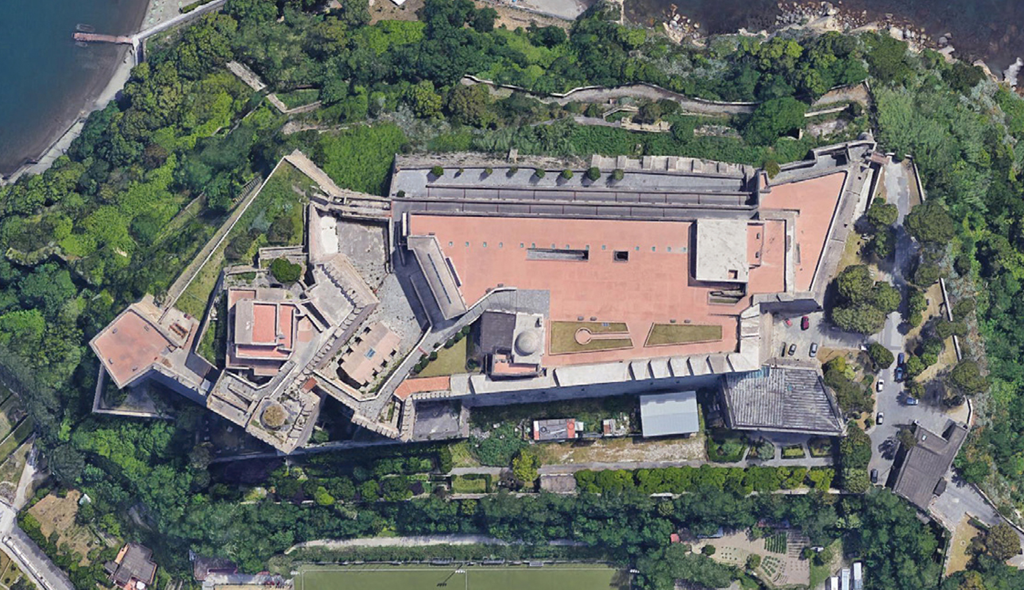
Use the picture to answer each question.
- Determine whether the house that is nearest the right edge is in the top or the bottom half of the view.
bottom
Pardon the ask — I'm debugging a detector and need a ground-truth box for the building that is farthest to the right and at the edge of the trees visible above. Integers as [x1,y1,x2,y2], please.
[892,420,968,512]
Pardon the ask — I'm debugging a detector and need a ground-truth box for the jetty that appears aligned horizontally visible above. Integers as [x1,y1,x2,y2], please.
[73,32,134,45]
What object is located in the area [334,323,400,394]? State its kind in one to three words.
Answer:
building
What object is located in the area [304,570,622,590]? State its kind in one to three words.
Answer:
sports field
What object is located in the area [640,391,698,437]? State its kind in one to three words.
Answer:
shed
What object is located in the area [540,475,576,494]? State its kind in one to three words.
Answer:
building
